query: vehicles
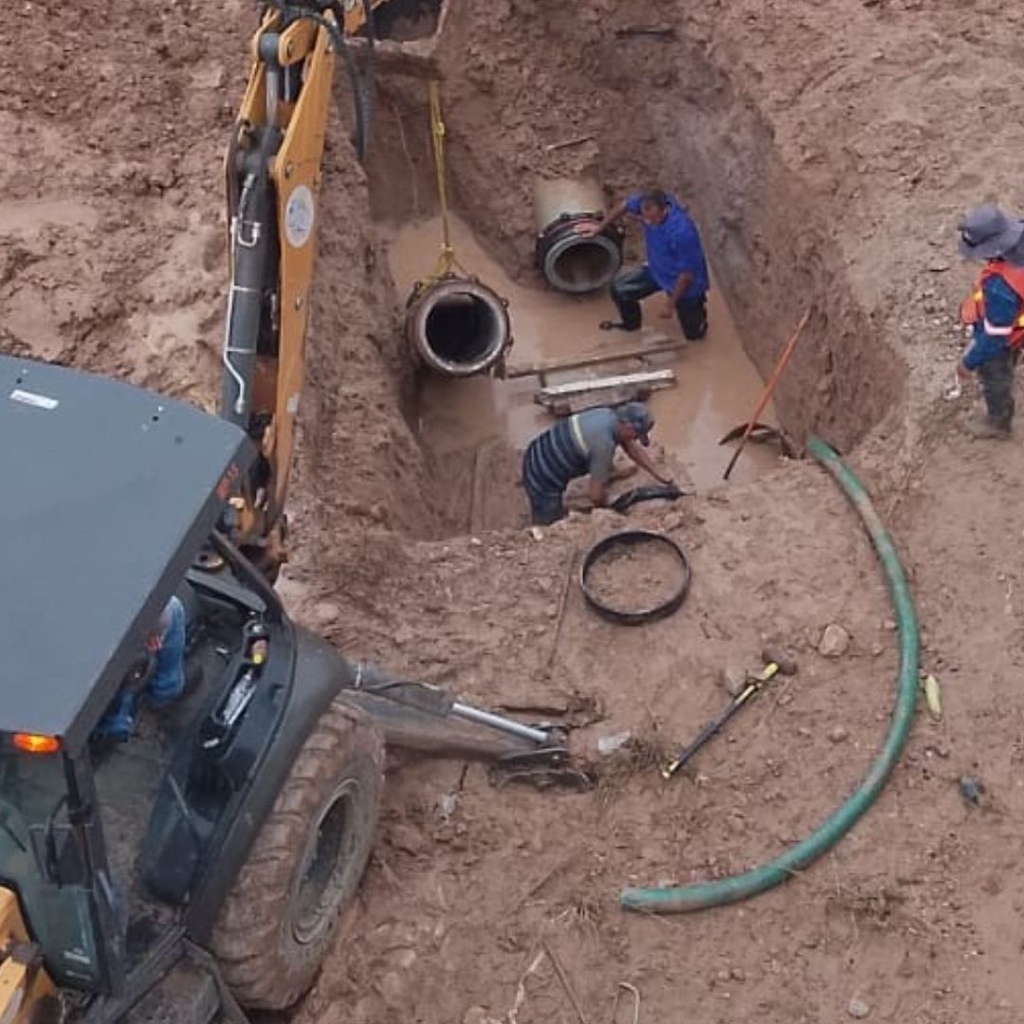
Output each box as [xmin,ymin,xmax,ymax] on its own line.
[0,0,590,1024]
